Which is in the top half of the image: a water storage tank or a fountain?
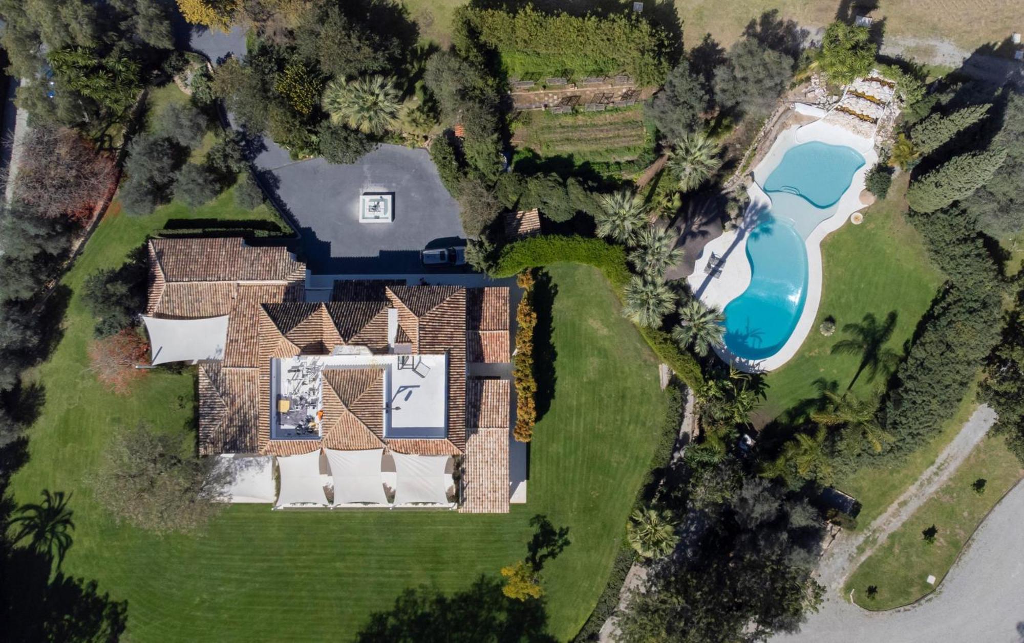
fountain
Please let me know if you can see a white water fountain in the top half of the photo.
Yes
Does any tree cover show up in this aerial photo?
Yes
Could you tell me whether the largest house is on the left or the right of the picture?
left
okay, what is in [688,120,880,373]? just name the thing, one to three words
swimming pool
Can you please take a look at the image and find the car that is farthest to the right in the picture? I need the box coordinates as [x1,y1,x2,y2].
[421,246,465,268]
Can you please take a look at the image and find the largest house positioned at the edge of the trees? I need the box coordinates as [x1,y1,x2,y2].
[146,236,510,514]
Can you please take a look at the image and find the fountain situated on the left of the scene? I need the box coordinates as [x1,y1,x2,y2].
[358,194,392,222]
